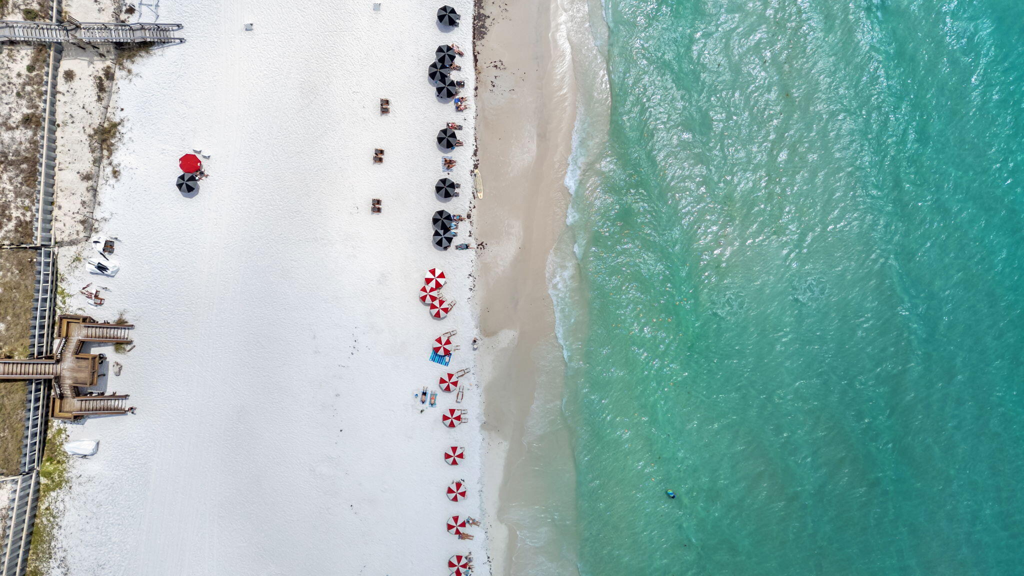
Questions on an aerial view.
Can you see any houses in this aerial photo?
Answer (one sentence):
No, I can't see a single house in this photo.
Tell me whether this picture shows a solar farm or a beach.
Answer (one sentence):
The picture captures a beach.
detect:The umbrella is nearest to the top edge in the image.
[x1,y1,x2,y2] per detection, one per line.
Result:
[437,7,458,29]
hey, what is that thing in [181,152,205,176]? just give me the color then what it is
red umbrella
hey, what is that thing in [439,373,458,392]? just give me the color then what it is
white umbrella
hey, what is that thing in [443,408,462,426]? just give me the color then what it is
white umbrella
